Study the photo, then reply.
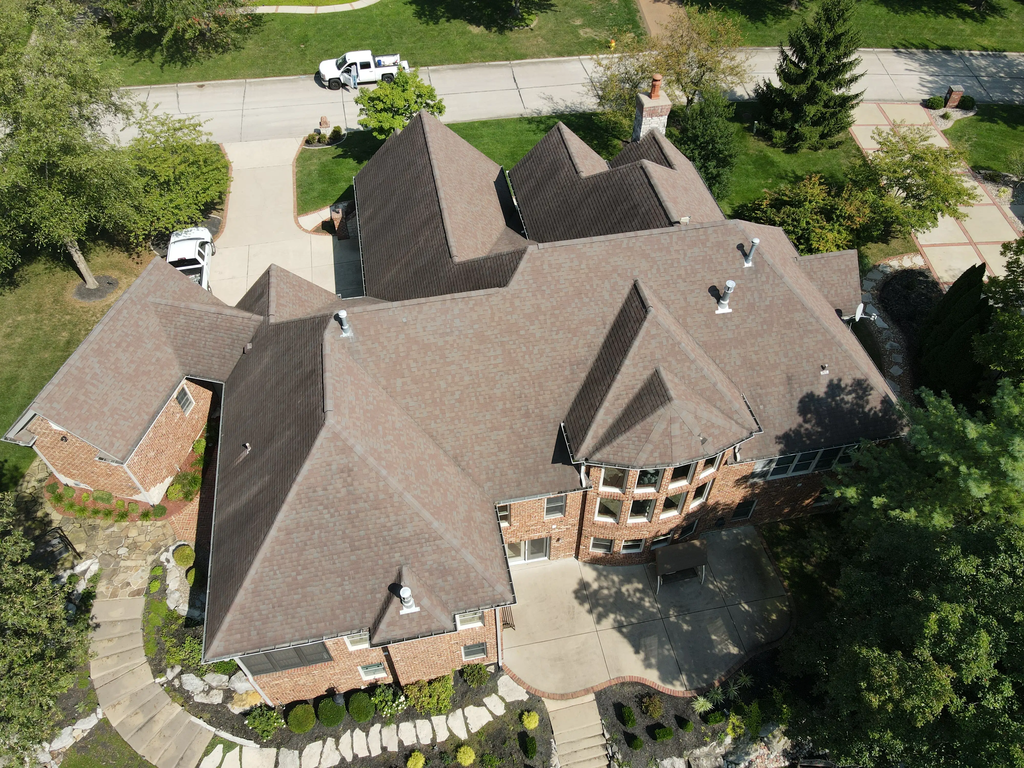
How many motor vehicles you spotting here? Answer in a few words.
2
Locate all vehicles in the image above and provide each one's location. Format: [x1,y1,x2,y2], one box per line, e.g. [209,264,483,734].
[161,226,215,288]
[318,48,406,89]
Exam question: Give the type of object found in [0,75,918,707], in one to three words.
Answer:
house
